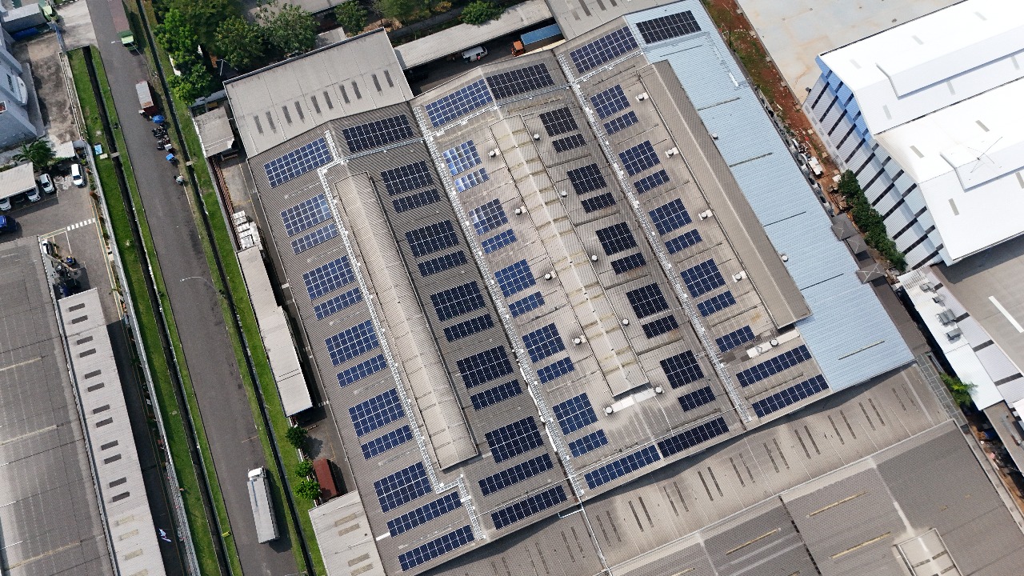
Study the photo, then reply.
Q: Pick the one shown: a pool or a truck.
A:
truck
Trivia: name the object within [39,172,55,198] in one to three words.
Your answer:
car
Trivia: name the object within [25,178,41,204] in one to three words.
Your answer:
car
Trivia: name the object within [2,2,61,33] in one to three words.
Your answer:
truck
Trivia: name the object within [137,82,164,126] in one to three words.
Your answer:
truck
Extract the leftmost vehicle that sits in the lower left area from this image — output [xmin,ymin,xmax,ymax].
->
[249,464,285,541]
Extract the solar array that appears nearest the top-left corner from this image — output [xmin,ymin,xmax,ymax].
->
[264,138,330,186]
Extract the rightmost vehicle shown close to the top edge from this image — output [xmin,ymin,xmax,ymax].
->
[513,26,555,54]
